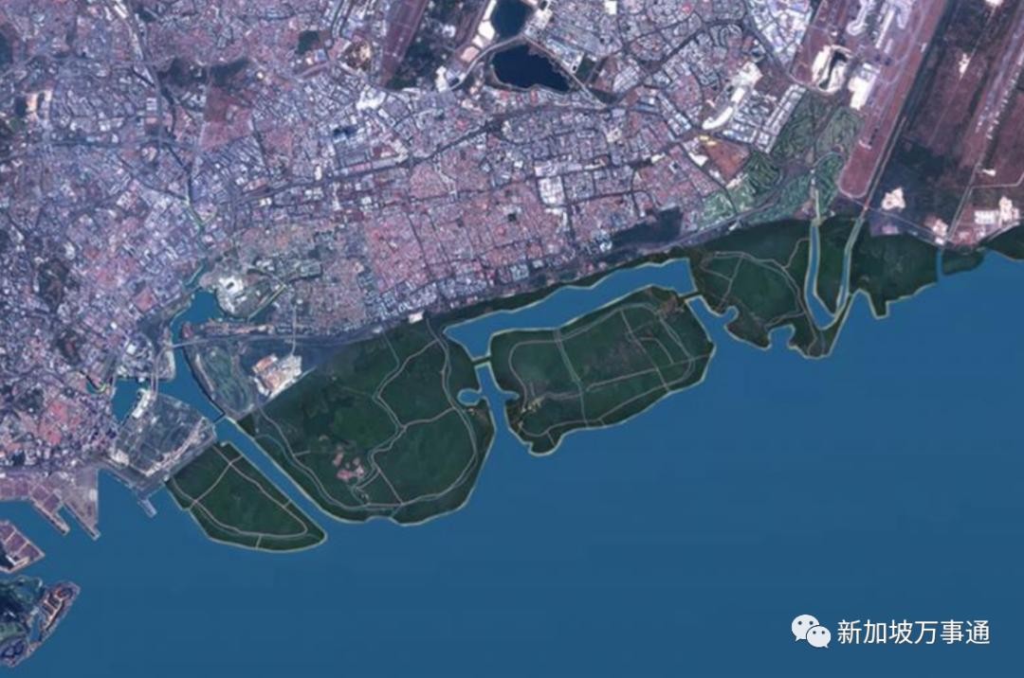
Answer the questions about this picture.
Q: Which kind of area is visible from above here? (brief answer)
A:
port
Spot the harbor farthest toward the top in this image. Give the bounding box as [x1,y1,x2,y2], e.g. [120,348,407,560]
[0,469,100,540]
